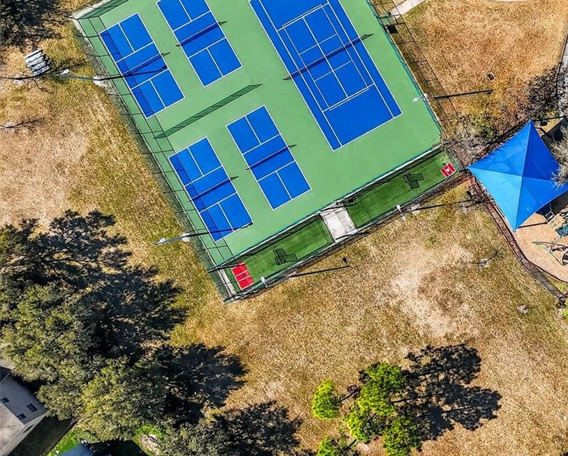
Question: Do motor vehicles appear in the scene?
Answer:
No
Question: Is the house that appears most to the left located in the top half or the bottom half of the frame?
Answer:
bottom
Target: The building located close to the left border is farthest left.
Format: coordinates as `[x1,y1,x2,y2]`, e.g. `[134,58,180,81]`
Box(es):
[0,358,47,452]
